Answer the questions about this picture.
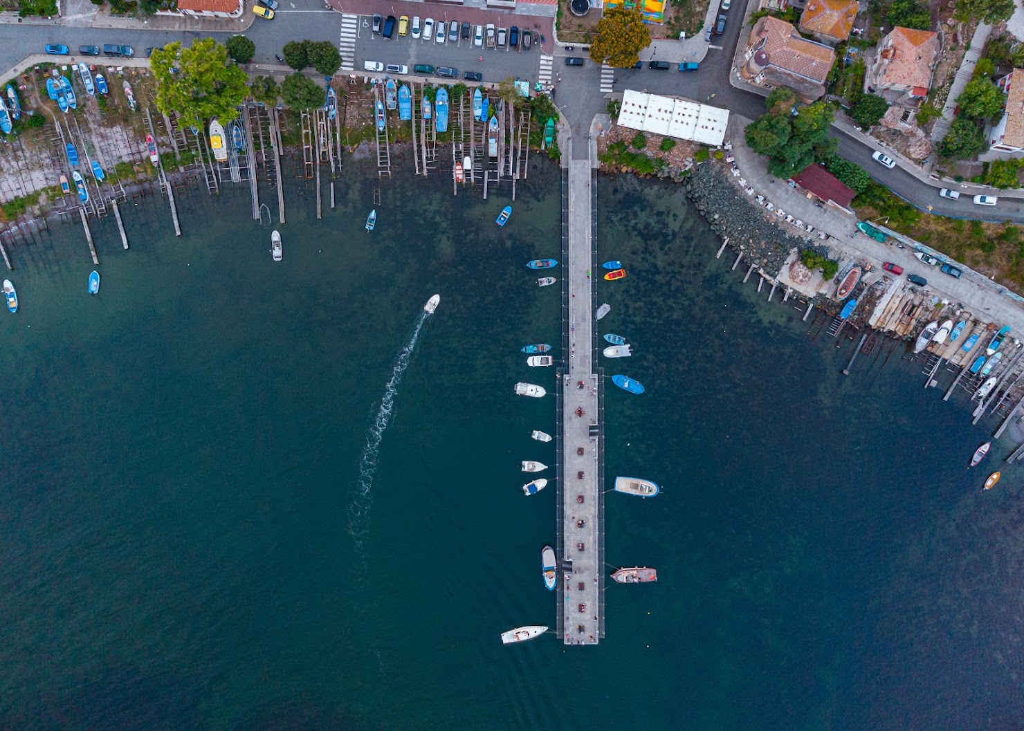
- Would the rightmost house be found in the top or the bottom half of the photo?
top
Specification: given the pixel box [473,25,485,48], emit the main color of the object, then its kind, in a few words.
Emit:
white vehicle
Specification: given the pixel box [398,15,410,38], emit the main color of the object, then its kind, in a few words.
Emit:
yellow vehicle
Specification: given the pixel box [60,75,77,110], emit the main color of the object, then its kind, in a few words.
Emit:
blue boat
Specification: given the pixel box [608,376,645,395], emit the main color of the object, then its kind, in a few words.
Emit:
blue boat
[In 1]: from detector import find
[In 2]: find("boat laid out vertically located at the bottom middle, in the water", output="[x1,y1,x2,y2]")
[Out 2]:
[542,545,556,591]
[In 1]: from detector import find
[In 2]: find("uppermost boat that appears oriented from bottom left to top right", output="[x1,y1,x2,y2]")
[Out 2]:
[496,205,512,226]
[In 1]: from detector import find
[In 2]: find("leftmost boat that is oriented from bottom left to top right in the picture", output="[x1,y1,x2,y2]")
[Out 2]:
[424,293,440,314]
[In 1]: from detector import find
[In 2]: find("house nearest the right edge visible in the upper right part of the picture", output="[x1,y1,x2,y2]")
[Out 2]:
[986,68,1024,158]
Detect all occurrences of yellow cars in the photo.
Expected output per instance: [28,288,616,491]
[251,3,276,22]
[398,15,410,38]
